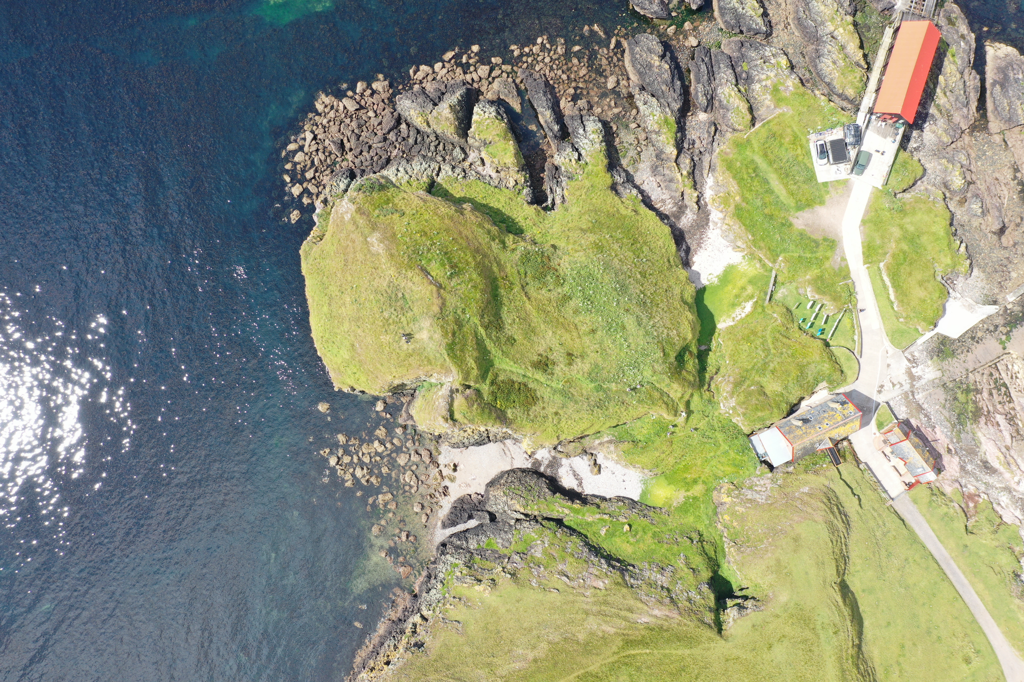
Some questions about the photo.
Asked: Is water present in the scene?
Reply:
Yes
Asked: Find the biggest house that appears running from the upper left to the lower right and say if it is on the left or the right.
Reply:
right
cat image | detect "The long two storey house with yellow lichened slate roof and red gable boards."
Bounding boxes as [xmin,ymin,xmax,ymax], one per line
[746,393,862,468]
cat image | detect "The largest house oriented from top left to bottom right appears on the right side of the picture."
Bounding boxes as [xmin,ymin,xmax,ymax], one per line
[877,422,937,484]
